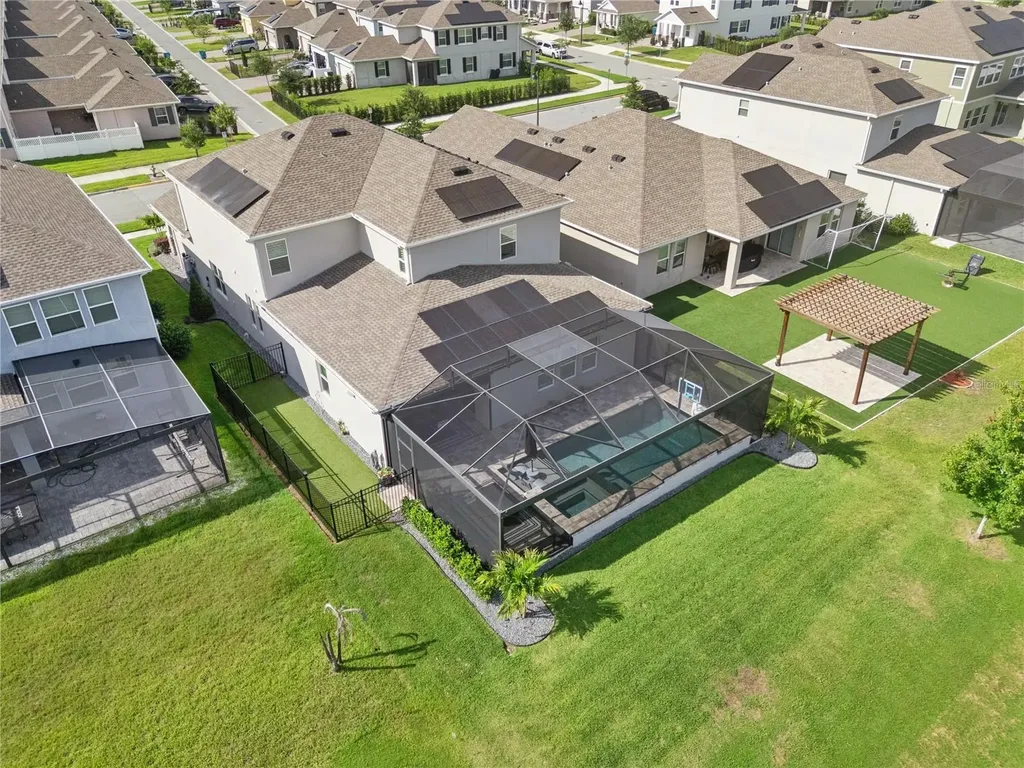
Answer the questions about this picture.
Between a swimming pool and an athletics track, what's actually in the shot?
swimming pool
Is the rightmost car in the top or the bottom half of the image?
top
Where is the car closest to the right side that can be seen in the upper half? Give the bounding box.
[636,89,675,110]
